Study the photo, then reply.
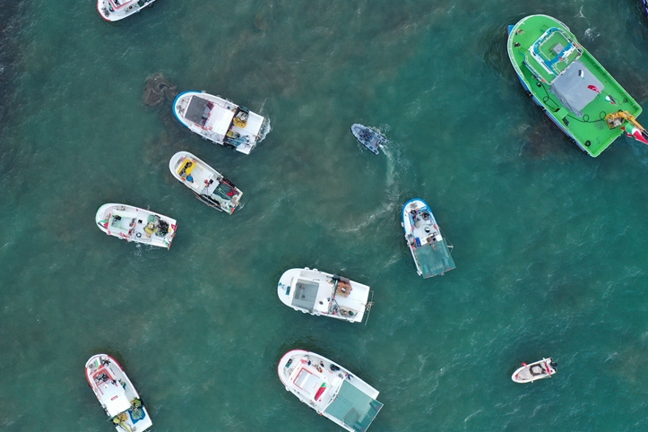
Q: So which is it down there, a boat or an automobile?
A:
boat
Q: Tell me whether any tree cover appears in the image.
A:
No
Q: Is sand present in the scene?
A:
No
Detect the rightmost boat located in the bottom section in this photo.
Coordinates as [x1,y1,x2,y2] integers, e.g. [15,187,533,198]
[511,357,557,383]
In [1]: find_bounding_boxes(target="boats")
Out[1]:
[511,357,557,383]
[350,122,385,153]
[169,151,244,213]
[277,268,374,324]
[96,203,176,247]
[400,198,456,279]
[277,349,383,432]
[172,89,264,155]
[85,353,152,432]
[97,0,150,22]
